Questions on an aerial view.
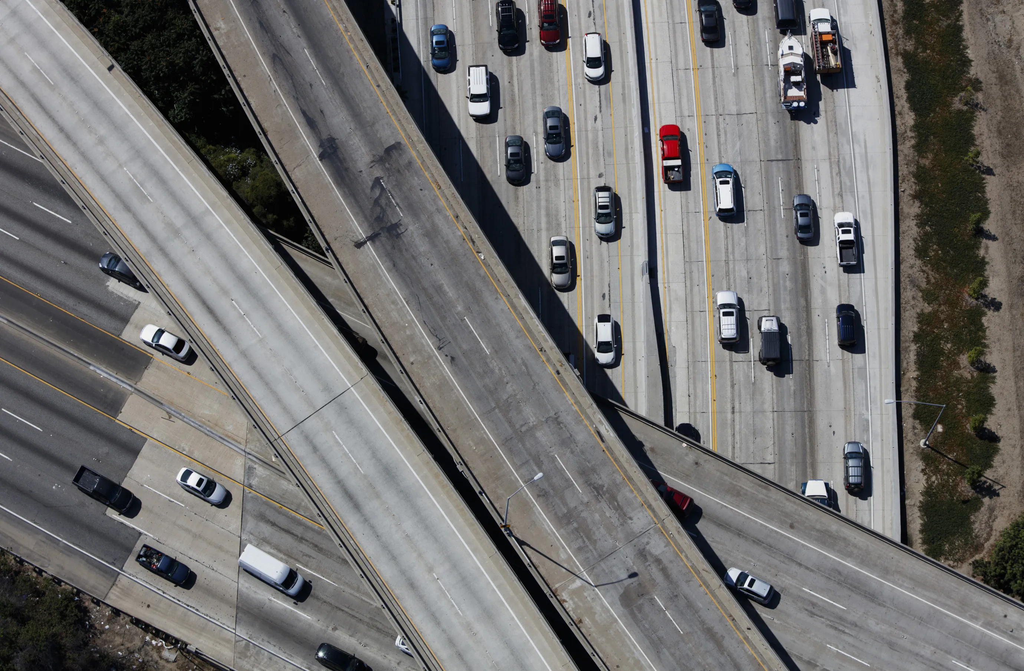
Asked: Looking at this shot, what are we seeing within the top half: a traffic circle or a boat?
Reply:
boat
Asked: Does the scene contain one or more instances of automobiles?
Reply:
Yes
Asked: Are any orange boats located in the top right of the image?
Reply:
No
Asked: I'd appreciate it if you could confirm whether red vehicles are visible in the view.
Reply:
Yes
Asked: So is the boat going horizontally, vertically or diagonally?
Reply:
vertically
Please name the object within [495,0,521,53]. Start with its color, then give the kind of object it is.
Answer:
black car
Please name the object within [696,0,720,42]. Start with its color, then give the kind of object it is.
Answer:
black car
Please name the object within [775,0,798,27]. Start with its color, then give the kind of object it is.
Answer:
black truck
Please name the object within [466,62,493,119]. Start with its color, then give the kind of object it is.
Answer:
white car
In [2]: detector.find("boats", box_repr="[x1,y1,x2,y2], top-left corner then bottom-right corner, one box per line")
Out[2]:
[778,34,807,112]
